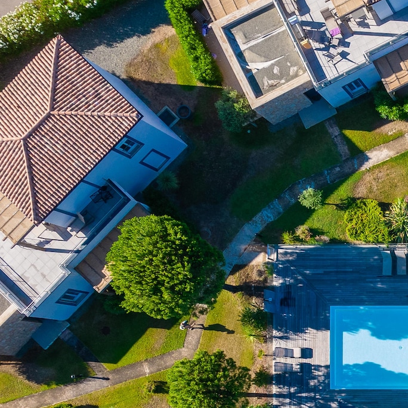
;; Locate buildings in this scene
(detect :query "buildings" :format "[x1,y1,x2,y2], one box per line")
[0,33,184,352]
[211,0,408,130]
